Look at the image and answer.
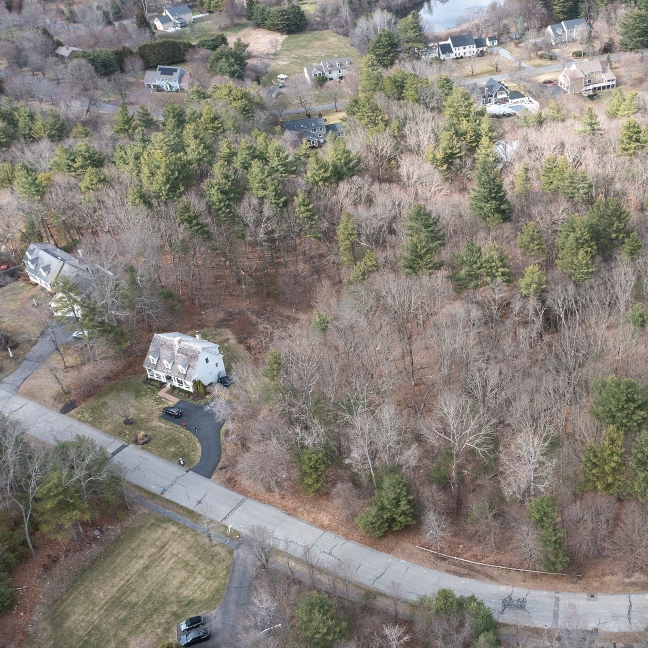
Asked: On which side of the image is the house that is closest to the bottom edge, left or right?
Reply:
left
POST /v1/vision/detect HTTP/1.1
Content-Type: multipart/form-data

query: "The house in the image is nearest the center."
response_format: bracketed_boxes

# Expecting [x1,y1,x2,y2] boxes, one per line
[143,330,232,389]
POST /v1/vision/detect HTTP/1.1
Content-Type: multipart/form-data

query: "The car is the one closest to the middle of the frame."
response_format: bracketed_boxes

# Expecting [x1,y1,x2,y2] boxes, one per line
[159,405,182,418]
